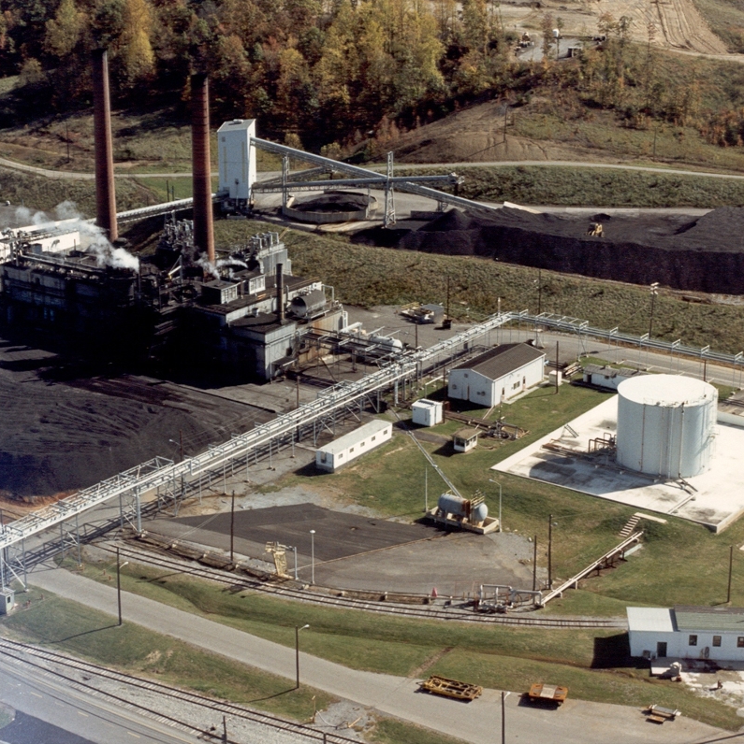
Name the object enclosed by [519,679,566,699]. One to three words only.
trailer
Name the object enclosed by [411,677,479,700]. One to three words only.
trailer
